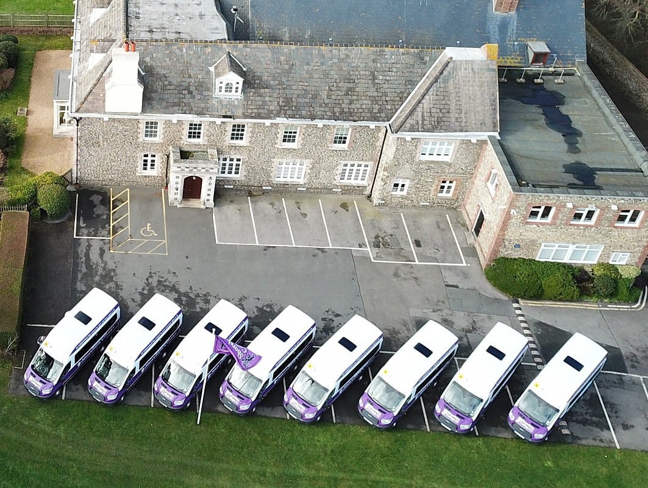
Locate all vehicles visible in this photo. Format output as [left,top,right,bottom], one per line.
[23,287,123,405]
[85,293,183,412]
[214,305,317,421]
[428,323,529,442]
[353,321,461,436]
[279,314,385,430]
[500,333,609,449]
[149,300,250,418]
